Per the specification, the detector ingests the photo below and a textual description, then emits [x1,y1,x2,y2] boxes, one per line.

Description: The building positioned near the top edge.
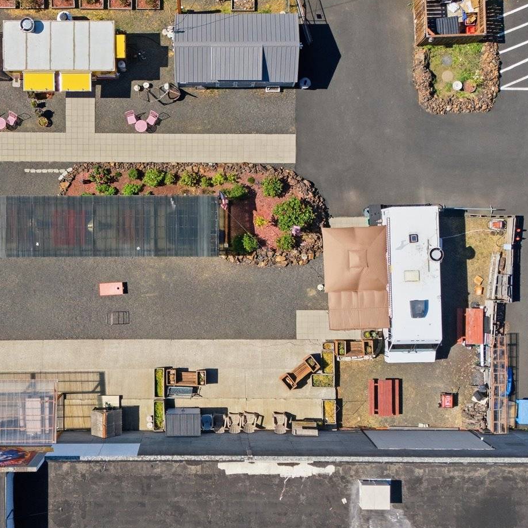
[173,13,302,88]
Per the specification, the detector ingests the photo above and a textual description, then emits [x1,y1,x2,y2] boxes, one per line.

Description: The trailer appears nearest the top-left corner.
[2,15,127,95]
